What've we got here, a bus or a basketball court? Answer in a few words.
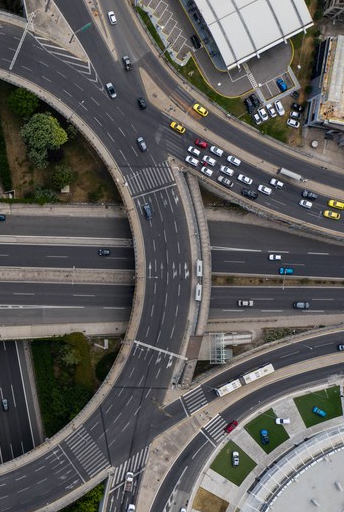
bus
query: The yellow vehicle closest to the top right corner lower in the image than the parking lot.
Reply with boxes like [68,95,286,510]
[192,104,209,117]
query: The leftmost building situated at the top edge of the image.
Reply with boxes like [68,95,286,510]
[184,0,316,73]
